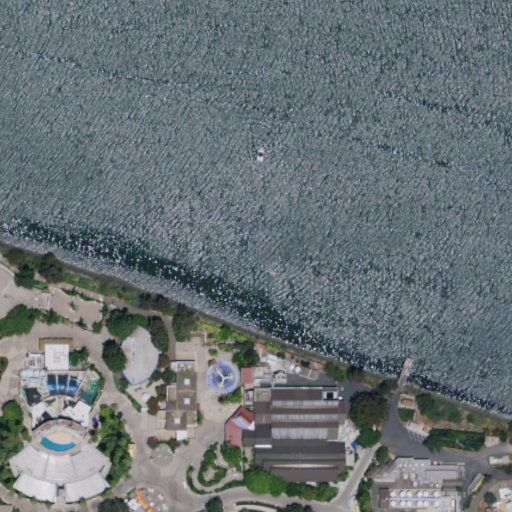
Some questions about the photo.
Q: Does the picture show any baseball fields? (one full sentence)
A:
No, there's no baseball field here.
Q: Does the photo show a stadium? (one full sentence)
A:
Yes, a stadium can be made out from above.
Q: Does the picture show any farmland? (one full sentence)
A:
No, the picture contains no farmland.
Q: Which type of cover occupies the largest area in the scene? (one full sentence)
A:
For the most part, this view shows water.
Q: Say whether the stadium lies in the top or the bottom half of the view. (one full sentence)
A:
The stadium sits in the bottom half of the picture.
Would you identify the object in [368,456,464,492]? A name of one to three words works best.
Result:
building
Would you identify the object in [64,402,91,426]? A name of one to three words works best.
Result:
building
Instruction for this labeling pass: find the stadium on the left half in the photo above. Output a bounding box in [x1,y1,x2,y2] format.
[8,417,110,504]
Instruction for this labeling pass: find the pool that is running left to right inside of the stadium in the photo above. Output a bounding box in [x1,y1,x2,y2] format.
[40,438,76,452]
